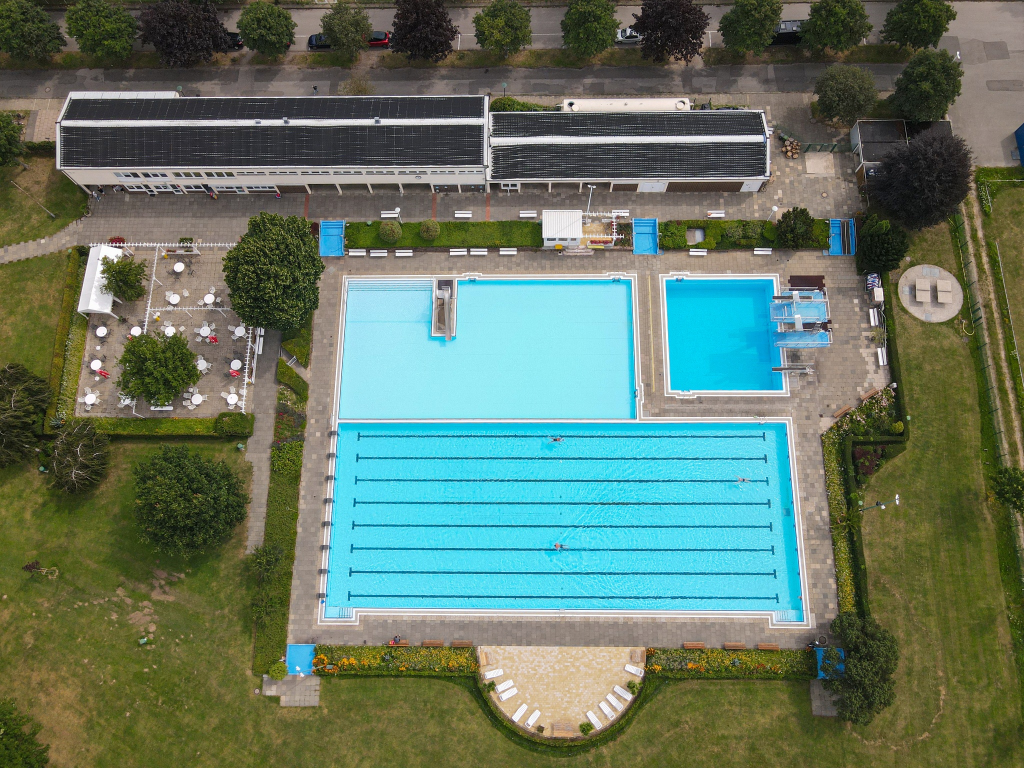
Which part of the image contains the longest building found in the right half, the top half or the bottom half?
top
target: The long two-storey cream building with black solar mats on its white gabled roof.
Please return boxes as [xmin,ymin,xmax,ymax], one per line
[56,93,490,195]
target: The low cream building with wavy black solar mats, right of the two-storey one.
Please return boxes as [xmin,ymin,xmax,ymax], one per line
[488,109,770,192]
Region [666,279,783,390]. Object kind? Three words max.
swimming pool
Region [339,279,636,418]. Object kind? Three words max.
swimming pool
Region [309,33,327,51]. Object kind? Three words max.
car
